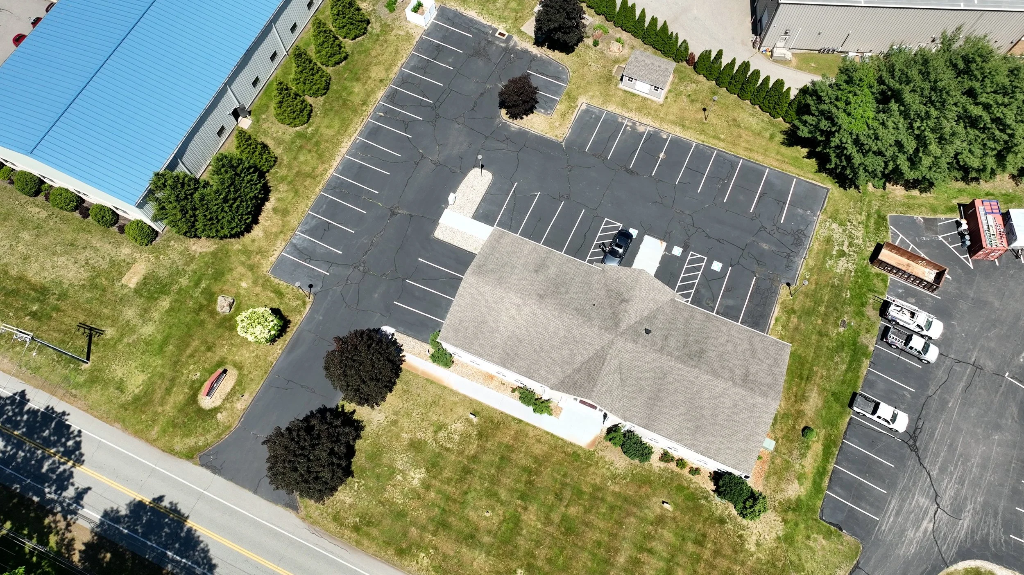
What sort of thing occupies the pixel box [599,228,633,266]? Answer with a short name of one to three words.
car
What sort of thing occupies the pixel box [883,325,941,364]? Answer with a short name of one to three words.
truck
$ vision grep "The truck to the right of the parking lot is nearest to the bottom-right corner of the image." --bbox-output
[850,392,909,433]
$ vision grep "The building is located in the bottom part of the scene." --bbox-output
[438,225,790,478]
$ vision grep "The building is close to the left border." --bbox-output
[0,0,325,233]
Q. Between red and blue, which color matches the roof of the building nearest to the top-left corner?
blue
